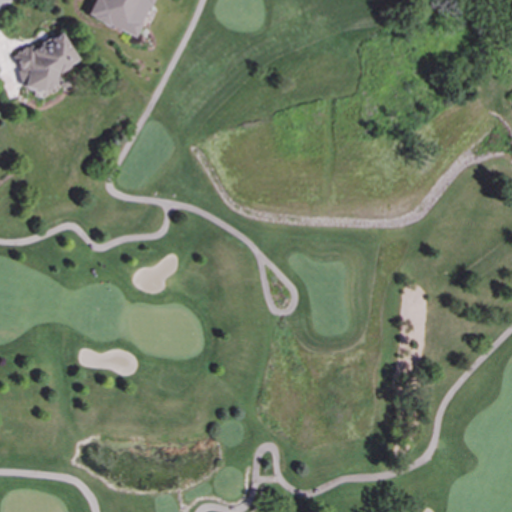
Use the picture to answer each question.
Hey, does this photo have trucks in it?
No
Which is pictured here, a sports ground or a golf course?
golf course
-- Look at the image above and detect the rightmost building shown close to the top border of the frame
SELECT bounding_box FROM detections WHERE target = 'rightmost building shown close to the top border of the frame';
[90,0,158,38]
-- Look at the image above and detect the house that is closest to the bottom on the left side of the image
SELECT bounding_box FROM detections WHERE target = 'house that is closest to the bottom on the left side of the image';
[9,30,82,98]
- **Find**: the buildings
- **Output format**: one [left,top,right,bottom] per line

[90,0,158,38]
[9,30,82,98]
